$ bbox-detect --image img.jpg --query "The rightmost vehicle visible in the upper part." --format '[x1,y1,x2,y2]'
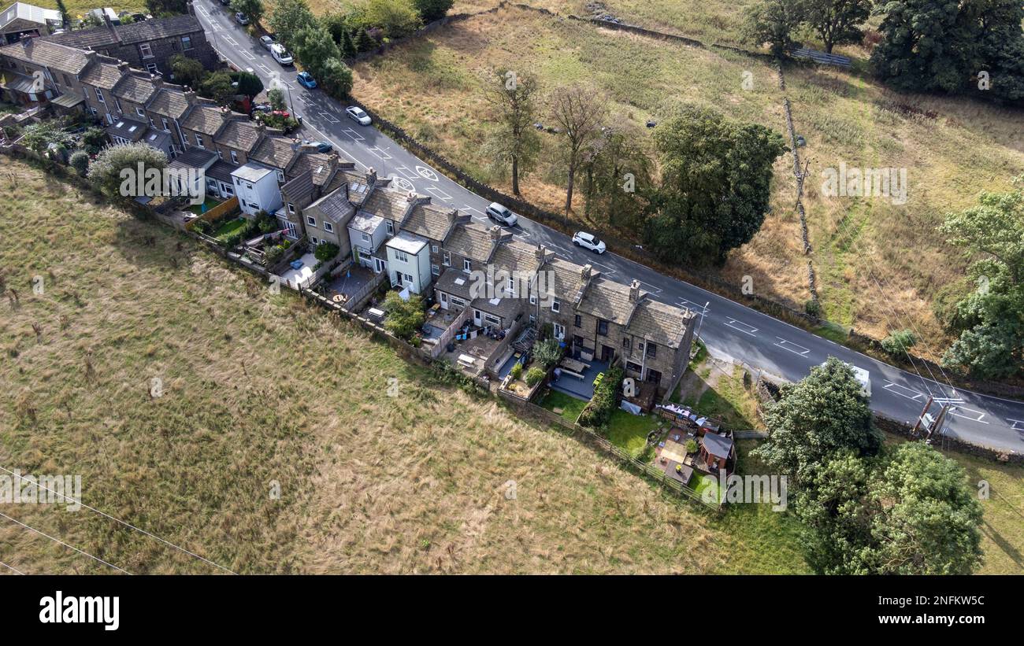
[572,233,606,258]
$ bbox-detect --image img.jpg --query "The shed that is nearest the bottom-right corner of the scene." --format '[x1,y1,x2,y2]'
[699,427,736,469]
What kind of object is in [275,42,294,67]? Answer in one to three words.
vehicle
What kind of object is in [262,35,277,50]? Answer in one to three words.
car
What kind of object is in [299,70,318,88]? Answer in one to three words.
car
